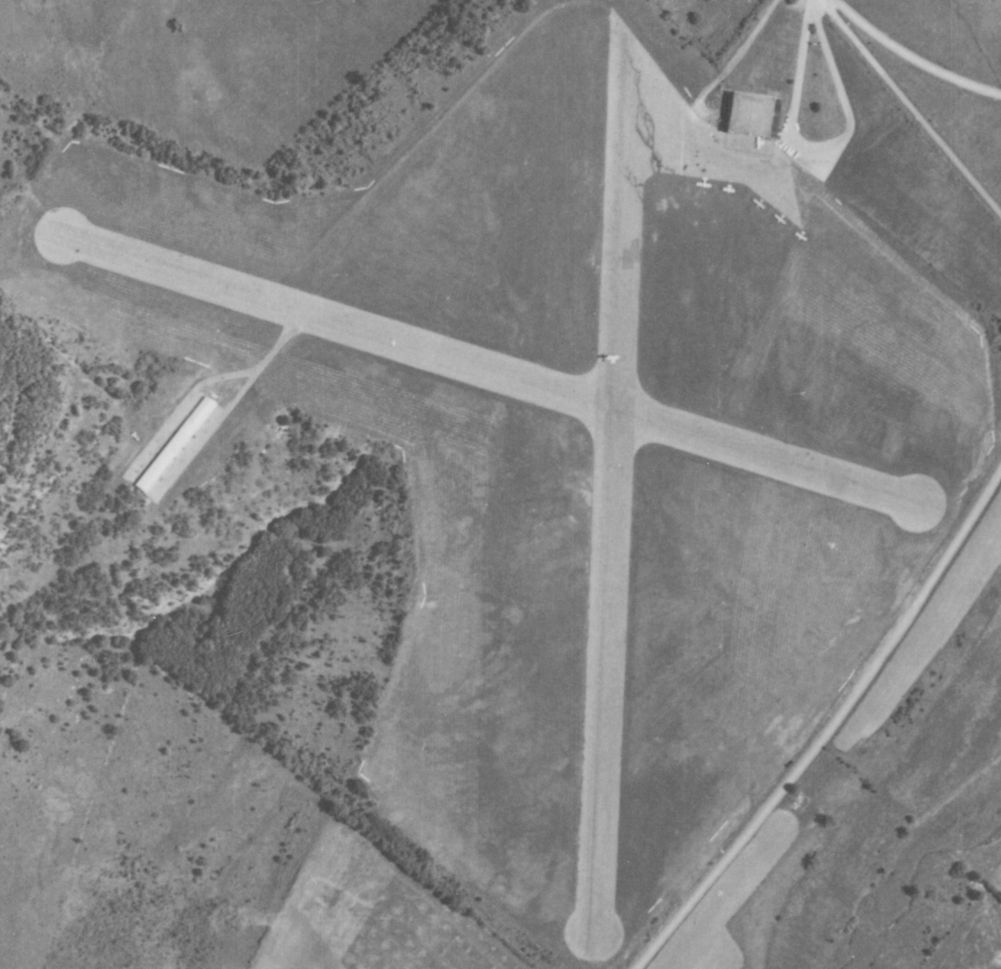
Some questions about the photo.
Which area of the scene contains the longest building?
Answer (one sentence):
The longest building sits in the left section of the image.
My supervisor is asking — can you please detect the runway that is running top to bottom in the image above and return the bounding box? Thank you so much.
[565,9,650,962]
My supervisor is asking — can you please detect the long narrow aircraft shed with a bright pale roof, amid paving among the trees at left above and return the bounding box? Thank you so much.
[137,397,217,494]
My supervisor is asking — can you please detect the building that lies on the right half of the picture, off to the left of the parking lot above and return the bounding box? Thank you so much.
[728,91,781,137]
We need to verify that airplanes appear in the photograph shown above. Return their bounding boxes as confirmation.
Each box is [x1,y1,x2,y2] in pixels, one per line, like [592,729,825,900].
[757,136,766,149]
[606,354,621,365]
[754,197,765,208]
[696,176,713,188]
[775,213,786,224]
[723,183,736,193]
[796,230,807,241]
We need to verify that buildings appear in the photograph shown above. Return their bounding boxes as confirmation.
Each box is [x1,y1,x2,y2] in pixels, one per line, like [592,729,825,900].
[137,397,217,494]
[728,91,781,137]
